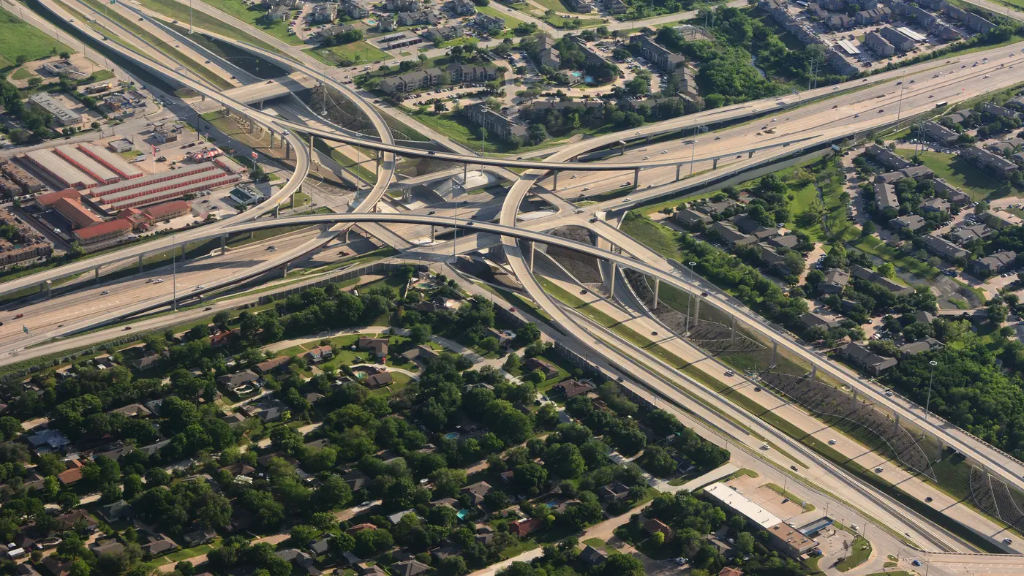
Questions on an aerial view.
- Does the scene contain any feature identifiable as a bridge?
Yes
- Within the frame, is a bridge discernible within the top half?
Yes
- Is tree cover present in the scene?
Yes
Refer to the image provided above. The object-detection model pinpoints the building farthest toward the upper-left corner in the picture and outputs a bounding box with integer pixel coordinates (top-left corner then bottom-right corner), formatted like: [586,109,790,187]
[43,59,75,80]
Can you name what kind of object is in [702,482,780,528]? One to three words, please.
building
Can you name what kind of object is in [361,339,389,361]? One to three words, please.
house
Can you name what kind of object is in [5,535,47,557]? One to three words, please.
house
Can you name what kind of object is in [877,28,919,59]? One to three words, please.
building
